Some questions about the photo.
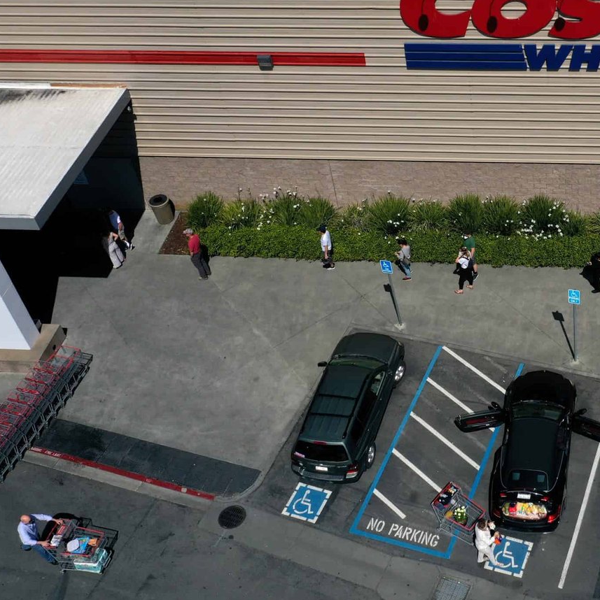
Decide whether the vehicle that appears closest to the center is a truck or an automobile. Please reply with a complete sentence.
From above, the vehicle that appears closest to the center can be identified as an automobile.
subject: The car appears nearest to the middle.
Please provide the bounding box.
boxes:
[287,333,400,487]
